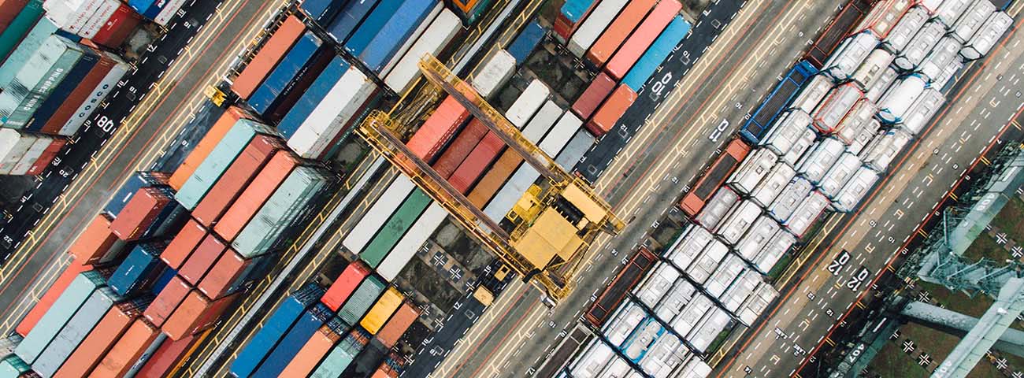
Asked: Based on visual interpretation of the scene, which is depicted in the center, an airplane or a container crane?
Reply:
container crane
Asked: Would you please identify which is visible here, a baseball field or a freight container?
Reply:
freight container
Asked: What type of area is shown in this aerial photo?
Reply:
industrial area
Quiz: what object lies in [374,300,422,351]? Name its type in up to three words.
shipping container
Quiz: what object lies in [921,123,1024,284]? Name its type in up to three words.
container crane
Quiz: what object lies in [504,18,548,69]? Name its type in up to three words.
shipping container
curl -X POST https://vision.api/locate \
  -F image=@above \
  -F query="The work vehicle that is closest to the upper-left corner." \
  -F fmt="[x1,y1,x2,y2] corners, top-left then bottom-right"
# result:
[198,81,241,115]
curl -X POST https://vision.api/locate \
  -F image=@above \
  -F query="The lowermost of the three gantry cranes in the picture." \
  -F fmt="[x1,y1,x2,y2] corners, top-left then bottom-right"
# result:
[805,278,1024,378]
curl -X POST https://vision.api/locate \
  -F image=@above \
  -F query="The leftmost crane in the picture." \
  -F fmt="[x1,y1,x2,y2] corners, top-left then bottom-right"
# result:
[353,48,624,301]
